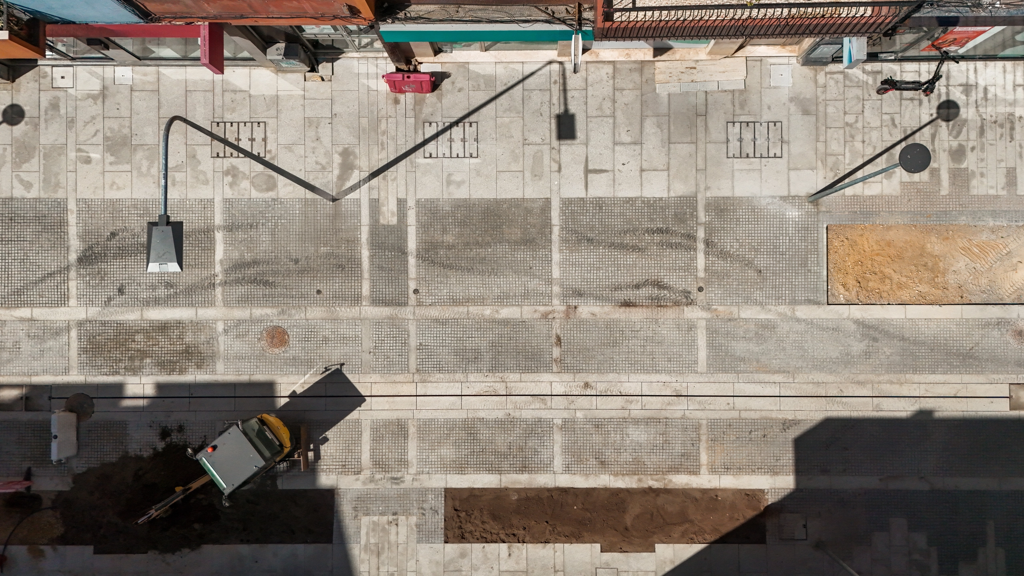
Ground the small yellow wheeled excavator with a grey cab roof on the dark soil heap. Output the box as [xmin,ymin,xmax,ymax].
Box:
[134,402,313,526]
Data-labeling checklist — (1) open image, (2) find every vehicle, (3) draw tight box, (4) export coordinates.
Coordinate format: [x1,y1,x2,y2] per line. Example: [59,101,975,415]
[134,402,313,526]
[879,47,962,99]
